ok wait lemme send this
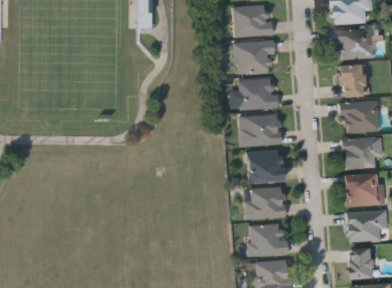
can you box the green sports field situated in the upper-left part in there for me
[8,0,136,121]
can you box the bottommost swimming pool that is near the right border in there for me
[376,258,392,278]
